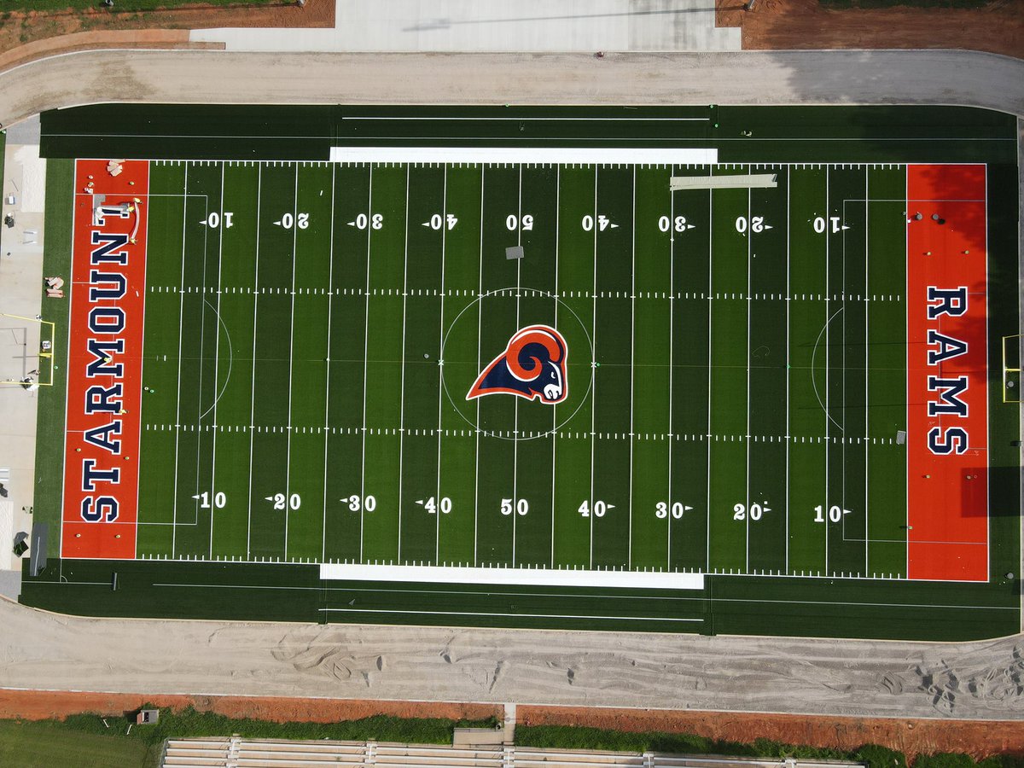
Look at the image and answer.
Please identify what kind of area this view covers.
sports ground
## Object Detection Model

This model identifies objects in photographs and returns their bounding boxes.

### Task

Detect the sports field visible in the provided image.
[20,104,1020,641]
